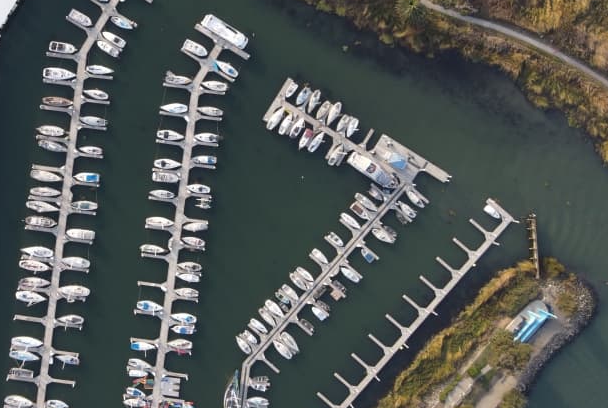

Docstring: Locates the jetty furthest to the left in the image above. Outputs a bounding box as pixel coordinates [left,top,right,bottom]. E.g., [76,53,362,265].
[3,0,153,408]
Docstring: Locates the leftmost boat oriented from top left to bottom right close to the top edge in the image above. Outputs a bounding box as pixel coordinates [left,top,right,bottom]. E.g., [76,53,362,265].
[67,7,91,24]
